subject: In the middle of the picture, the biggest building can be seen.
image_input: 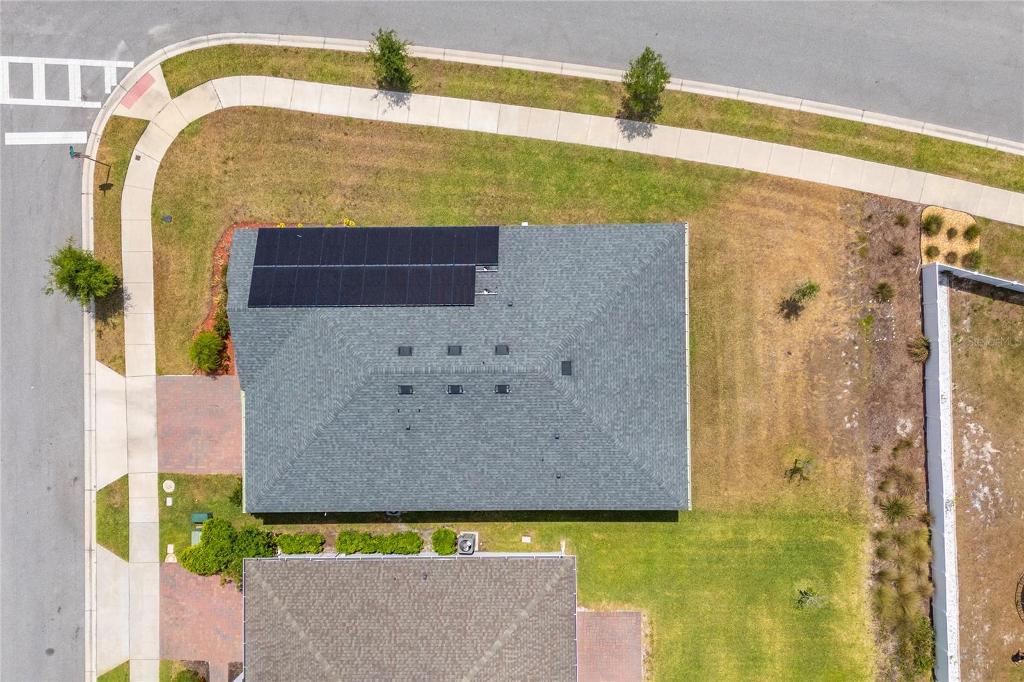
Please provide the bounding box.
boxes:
[224,223,693,514]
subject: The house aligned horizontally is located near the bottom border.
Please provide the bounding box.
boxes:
[236,540,578,682]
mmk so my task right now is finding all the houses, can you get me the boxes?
[236,540,578,682]
[224,223,693,514]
